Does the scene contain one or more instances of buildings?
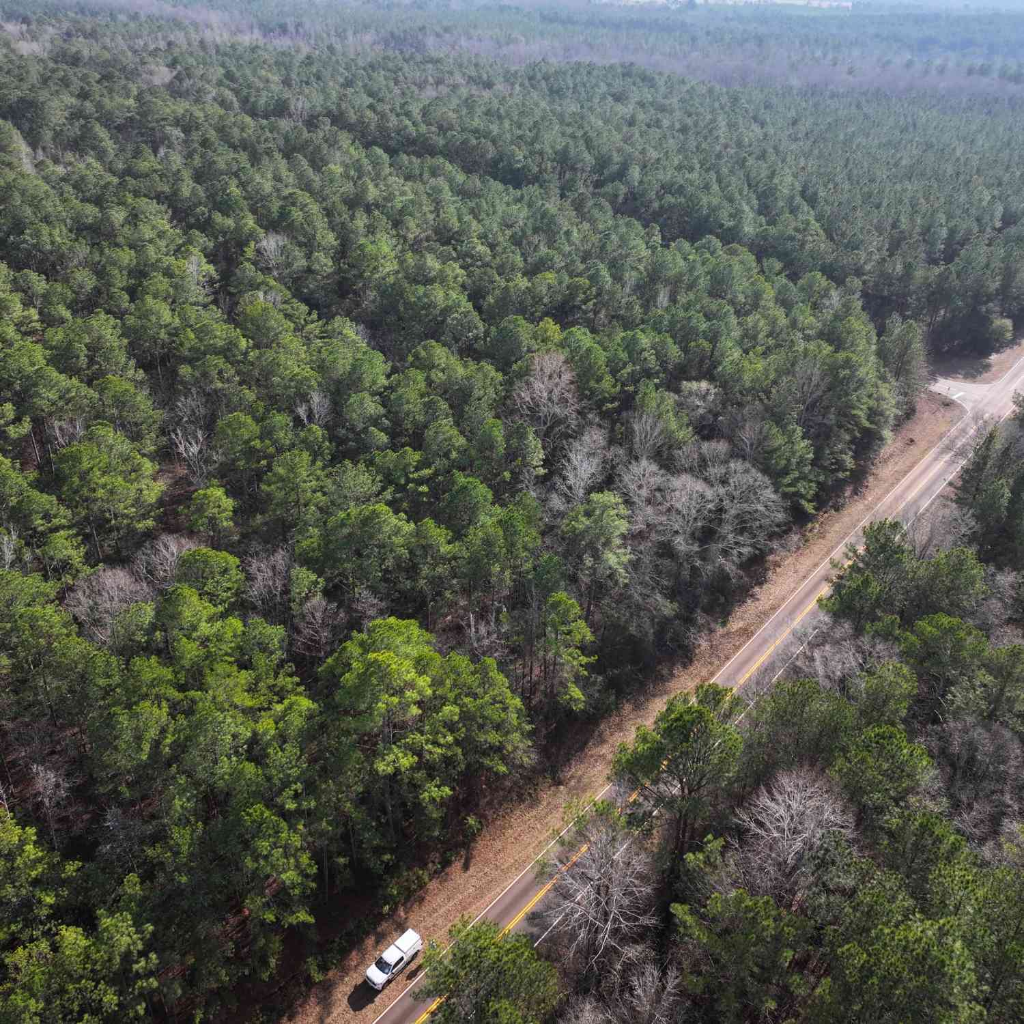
No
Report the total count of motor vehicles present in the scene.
one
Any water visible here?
No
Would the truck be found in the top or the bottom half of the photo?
bottom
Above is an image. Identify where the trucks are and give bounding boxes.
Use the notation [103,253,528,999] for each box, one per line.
[368,931,422,990]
